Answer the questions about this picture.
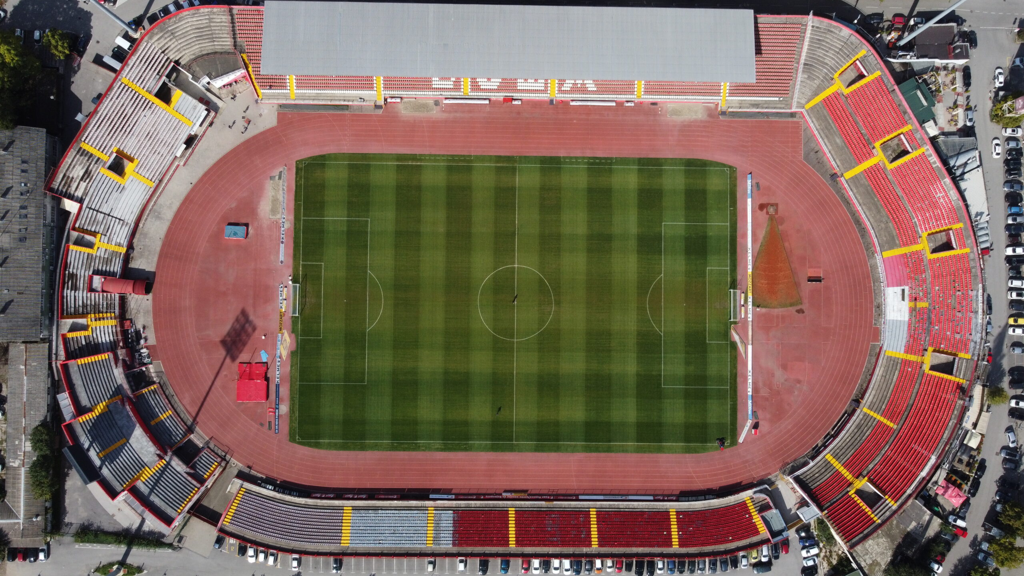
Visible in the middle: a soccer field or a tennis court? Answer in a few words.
soccer field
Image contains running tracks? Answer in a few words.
Yes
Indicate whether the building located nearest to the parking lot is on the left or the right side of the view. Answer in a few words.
right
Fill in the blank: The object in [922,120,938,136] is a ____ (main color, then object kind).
white umbrella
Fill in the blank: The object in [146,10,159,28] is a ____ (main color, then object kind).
black vehicle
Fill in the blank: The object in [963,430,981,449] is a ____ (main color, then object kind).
white umbrella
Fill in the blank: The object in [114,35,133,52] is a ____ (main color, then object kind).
white vehicle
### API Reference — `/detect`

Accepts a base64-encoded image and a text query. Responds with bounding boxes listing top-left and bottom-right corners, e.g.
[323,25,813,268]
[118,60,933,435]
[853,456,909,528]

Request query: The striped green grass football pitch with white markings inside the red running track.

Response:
[289,153,738,454]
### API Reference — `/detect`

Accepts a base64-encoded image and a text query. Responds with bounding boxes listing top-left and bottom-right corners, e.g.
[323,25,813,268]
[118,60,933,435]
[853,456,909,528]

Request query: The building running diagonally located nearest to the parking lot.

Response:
[757,503,788,542]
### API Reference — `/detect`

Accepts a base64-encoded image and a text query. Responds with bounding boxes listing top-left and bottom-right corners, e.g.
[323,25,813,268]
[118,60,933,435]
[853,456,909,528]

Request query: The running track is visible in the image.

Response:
[145,99,877,497]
